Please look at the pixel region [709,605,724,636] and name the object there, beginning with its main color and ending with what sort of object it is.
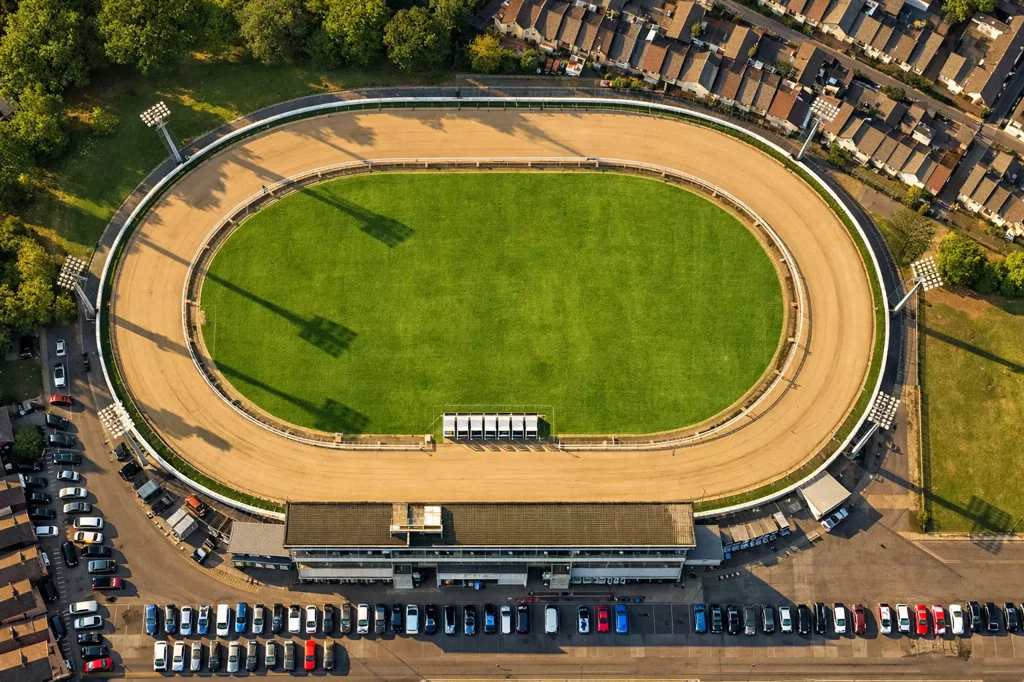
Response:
black car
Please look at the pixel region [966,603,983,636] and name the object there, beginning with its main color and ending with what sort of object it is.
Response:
black car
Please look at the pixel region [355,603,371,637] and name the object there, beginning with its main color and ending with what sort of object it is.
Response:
white car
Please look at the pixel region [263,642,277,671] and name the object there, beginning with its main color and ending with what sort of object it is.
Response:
gray car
